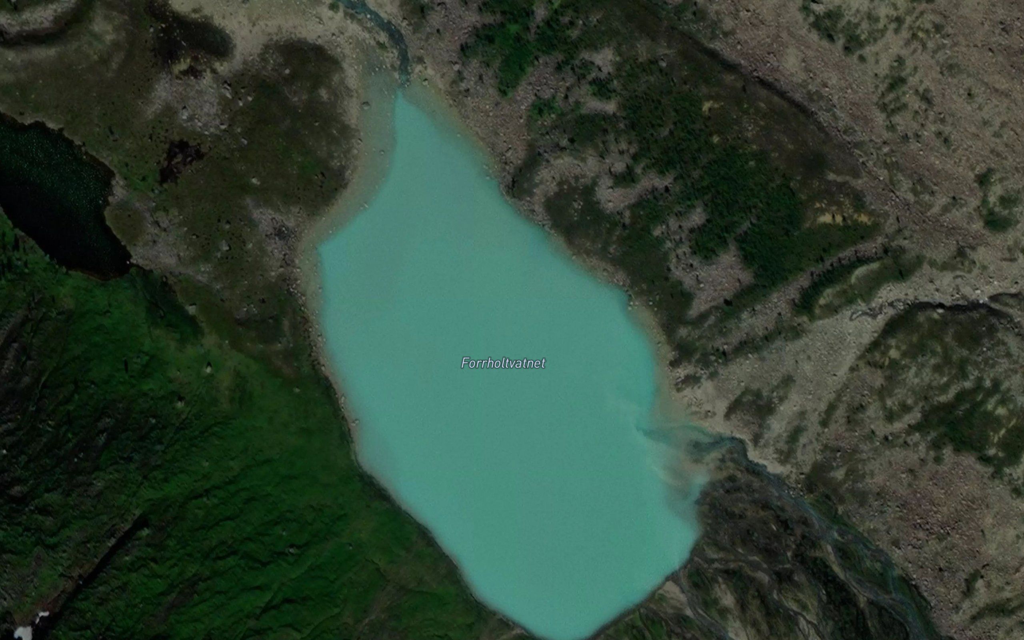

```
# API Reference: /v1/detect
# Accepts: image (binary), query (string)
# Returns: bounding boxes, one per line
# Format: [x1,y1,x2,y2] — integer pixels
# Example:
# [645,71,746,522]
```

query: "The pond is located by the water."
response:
[0,111,134,280]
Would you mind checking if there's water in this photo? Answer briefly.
Yes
